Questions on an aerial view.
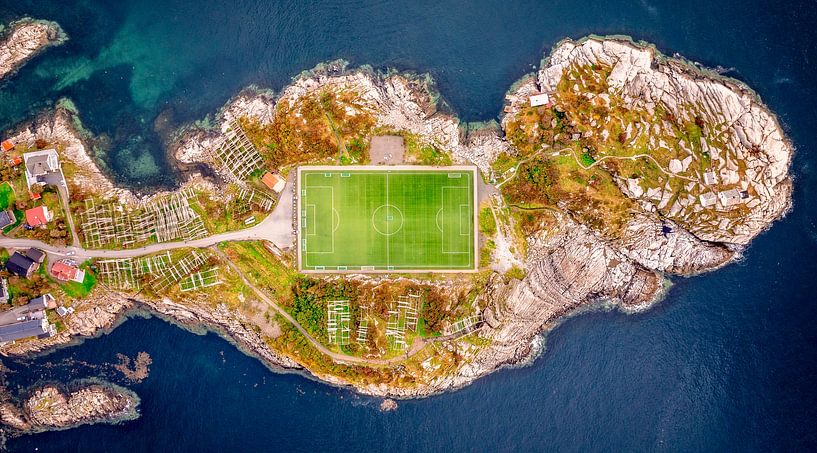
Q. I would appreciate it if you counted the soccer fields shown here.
1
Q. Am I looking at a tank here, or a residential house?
residential house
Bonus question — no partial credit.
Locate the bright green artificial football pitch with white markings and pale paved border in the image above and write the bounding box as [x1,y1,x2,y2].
[298,167,478,272]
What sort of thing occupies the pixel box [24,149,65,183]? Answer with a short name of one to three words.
house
